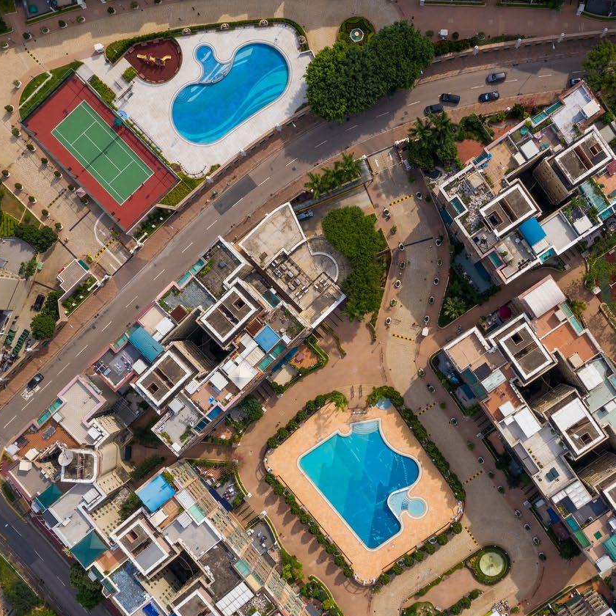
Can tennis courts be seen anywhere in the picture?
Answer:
Yes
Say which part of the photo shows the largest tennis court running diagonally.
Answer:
top left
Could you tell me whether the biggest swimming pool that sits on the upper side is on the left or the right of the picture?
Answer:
left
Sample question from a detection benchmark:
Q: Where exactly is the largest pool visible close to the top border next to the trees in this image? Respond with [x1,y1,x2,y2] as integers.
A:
[92,23,313,178]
